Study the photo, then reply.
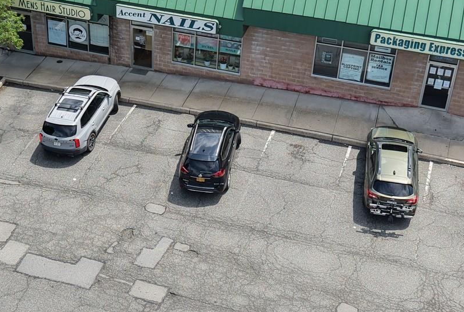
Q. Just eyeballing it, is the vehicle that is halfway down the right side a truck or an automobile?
automobile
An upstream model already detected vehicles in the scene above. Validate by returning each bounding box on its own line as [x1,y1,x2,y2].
[359,138,426,235]
[178,111,248,198]
[36,75,121,160]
